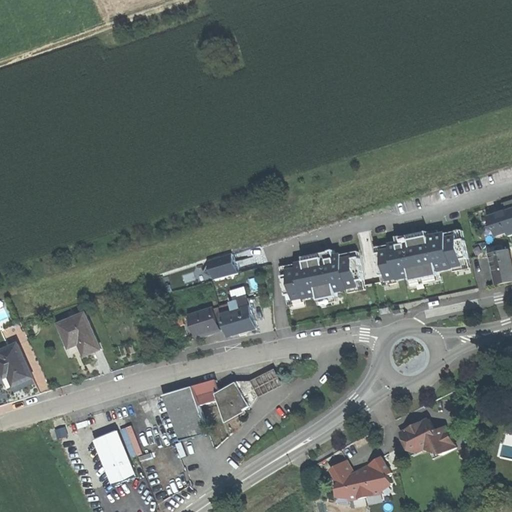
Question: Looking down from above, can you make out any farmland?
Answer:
Yes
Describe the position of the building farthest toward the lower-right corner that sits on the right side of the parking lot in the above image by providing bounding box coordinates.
[399,418,456,458]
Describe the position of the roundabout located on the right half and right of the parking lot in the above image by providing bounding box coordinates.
[378,324,442,389]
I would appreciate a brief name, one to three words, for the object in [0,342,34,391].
house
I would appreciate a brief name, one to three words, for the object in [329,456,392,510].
house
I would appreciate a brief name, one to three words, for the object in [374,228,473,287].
building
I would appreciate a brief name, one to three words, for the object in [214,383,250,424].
building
